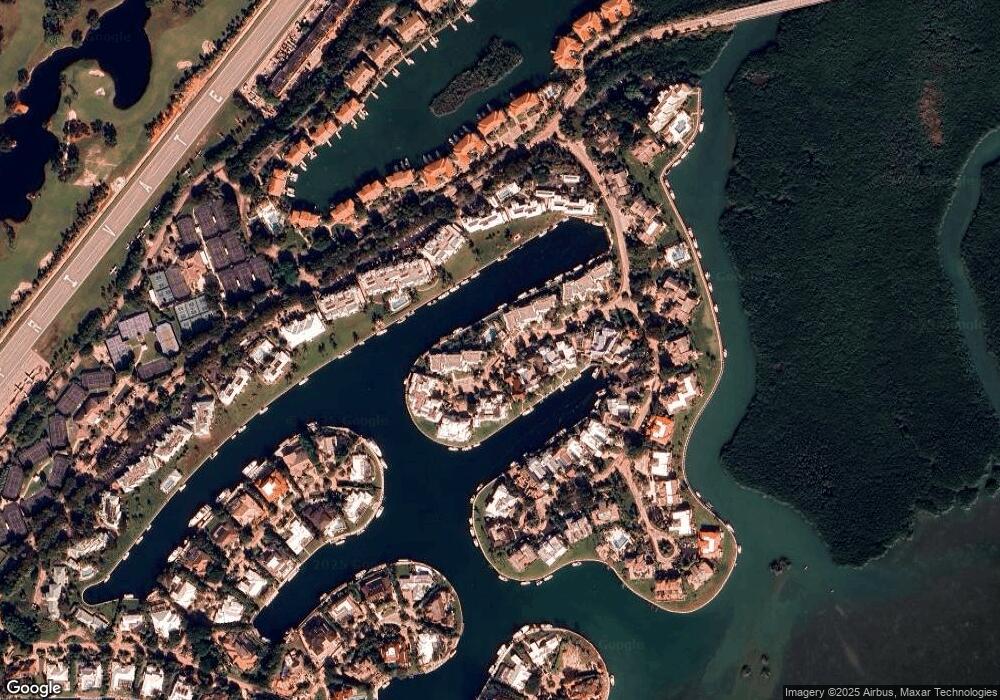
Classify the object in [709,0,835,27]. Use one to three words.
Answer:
bridge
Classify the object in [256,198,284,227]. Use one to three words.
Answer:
swimming pool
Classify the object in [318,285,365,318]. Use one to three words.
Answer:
building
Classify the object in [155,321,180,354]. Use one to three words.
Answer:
sports court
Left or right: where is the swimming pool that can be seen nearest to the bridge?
right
